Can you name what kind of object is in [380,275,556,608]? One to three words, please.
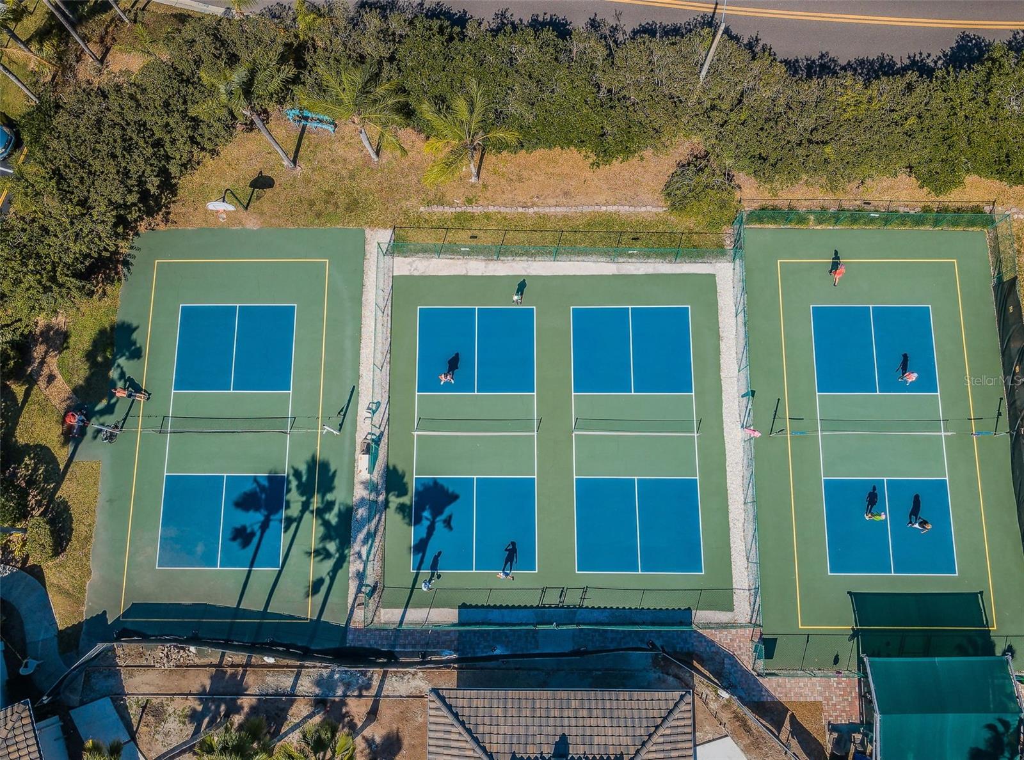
sports court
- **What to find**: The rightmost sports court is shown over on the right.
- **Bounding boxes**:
[744,228,1024,670]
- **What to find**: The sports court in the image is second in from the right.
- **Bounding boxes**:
[553,274,734,611]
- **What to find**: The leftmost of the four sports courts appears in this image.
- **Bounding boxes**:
[67,228,364,646]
